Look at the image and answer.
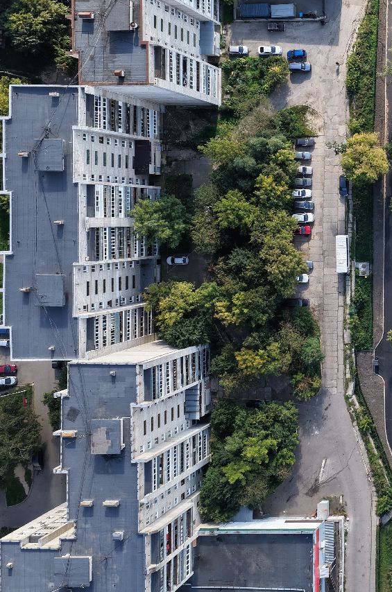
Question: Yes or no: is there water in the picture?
No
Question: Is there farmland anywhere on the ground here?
No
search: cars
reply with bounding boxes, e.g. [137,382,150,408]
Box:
[292,226,314,235]
[227,44,249,54]
[0,326,11,337]
[287,47,307,58]
[289,273,310,282]
[167,255,190,266]
[0,338,11,348]
[294,136,317,147]
[0,364,19,373]
[295,165,315,175]
[294,149,314,160]
[301,260,315,269]
[258,44,282,55]
[338,176,349,196]
[293,188,315,198]
[293,212,315,223]
[292,176,314,187]
[293,201,316,210]
[0,376,19,384]
[289,62,312,71]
